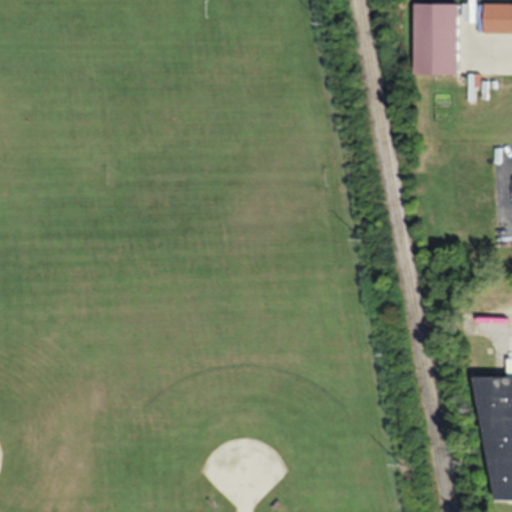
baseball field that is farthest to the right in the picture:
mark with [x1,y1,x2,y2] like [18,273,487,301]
[202,438,289,512]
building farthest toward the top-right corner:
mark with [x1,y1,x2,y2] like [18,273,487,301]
[482,4,512,34]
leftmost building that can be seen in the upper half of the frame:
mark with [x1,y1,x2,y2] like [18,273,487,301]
[414,2,458,76]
